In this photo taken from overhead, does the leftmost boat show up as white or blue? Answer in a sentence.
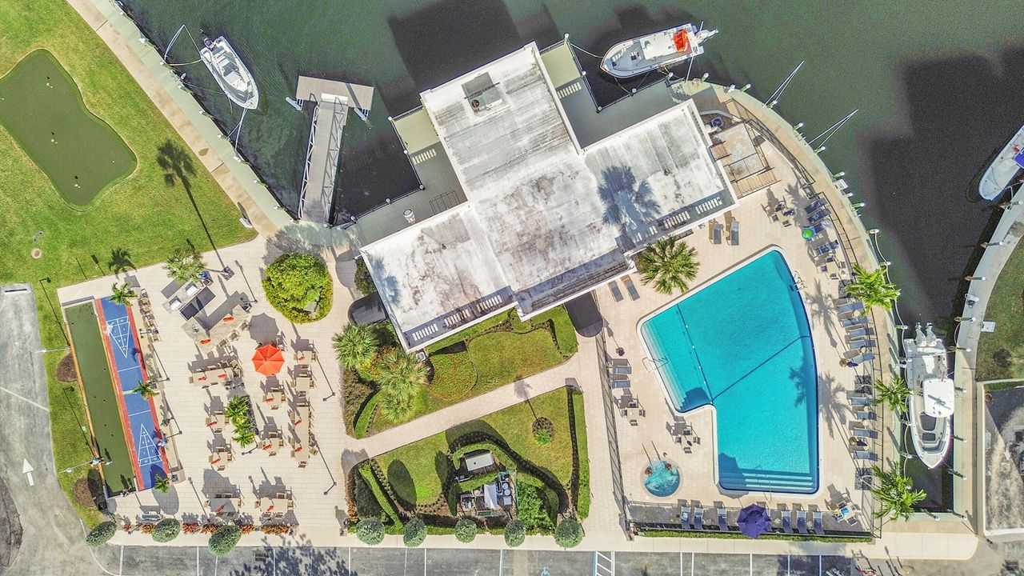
The leftmost boat is white.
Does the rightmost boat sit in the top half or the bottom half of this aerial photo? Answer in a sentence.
The top half of the photo is where the rightmost boat is.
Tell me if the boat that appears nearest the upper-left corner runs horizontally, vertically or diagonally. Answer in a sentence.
I'd say the boat that appears nearest the upper-left corner is aligned diagonally in the picture.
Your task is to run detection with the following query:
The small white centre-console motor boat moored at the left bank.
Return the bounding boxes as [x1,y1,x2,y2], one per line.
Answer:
[200,35,260,109]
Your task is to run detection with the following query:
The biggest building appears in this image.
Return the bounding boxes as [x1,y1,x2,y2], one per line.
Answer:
[359,43,738,353]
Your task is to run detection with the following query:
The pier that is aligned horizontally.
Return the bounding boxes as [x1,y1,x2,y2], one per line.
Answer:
[286,76,376,121]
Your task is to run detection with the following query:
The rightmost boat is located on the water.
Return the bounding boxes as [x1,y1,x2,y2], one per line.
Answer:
[981,119,1024,201]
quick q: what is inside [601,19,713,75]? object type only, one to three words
boat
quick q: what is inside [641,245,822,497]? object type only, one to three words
swimming pool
